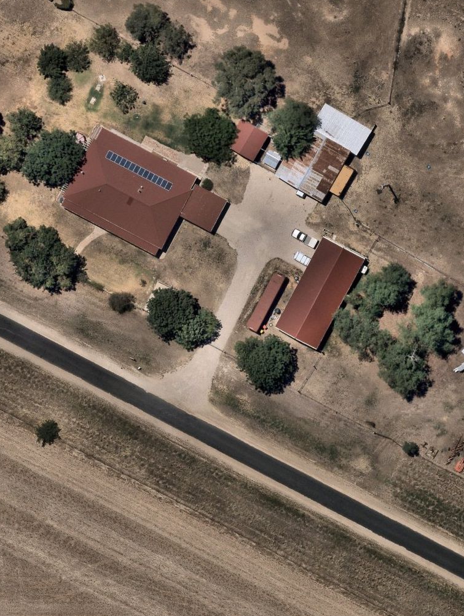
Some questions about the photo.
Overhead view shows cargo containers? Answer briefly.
Yes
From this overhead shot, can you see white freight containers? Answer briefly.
No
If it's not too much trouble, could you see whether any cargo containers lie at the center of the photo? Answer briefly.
Yes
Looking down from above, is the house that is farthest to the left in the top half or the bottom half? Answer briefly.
top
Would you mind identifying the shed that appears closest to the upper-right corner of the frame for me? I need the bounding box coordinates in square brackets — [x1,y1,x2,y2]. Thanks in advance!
[315,103,372,155]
